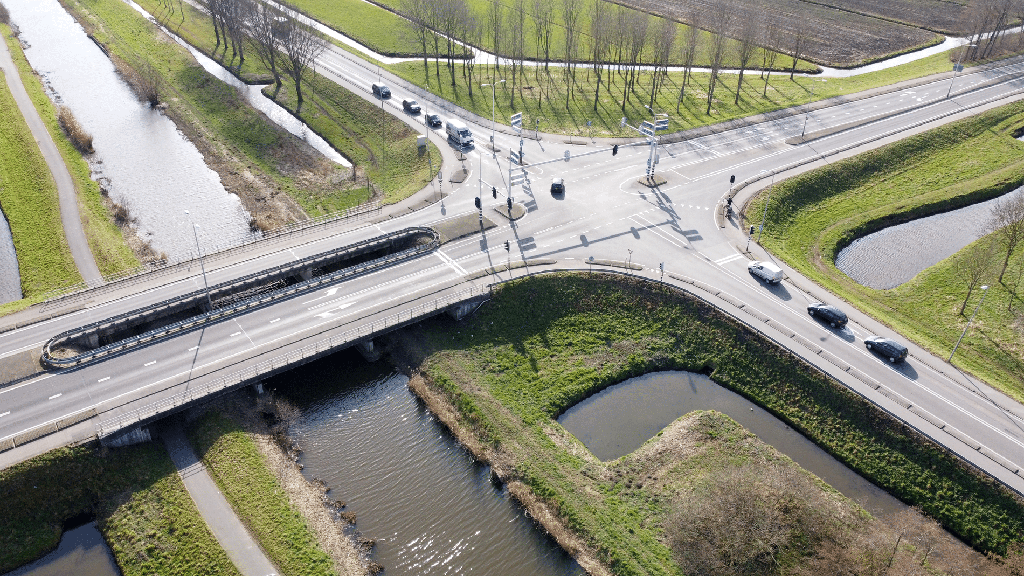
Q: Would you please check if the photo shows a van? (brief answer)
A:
Yes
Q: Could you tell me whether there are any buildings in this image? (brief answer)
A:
No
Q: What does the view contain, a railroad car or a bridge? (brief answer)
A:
bridge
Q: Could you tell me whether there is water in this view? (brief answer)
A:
Yes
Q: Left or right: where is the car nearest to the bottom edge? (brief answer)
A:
right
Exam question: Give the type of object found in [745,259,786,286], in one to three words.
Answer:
vehicle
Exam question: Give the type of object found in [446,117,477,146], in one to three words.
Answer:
van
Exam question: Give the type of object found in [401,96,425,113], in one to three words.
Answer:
car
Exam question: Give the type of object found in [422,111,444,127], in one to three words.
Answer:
car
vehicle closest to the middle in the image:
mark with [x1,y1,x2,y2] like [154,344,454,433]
[550,174,565,190]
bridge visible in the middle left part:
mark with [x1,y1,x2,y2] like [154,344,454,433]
[59,206,490,442]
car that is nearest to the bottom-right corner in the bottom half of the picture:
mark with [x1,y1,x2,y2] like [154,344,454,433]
[863,334,912,364]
